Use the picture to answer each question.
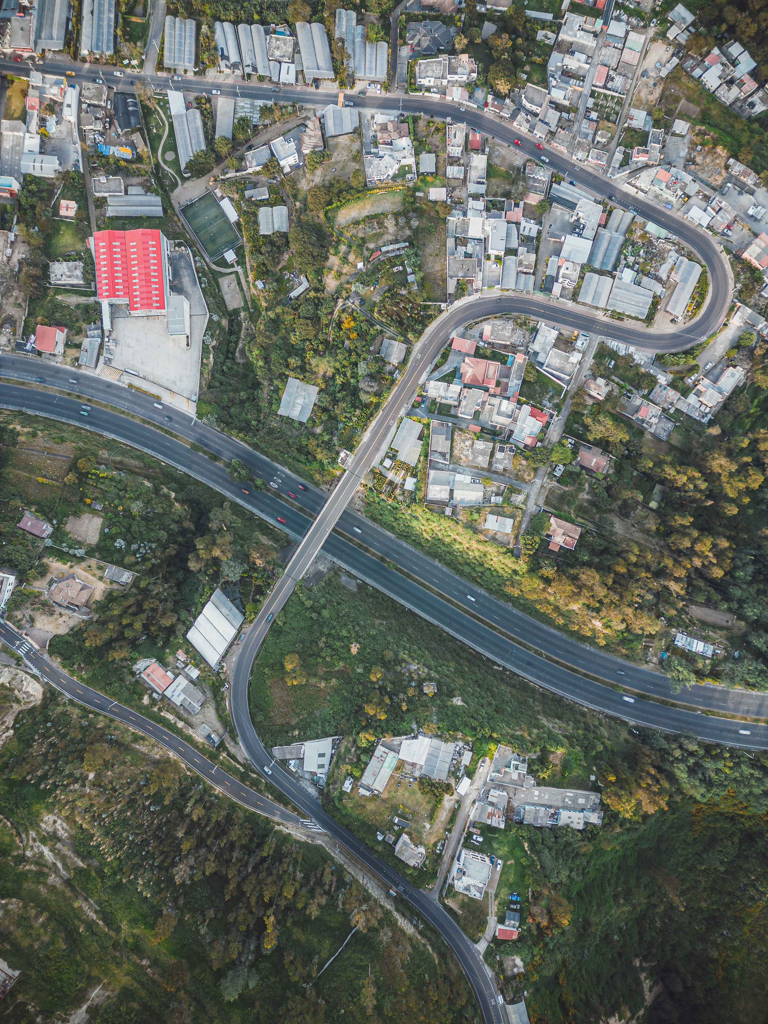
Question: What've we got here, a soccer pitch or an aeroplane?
soccer pitch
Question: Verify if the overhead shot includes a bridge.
Yes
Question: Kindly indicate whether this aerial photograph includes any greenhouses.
Yes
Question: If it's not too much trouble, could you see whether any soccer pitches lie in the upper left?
Yes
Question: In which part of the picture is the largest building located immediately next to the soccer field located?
top left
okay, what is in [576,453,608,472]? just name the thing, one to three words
shed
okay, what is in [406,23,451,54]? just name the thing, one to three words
house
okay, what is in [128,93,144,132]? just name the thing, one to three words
greenhouse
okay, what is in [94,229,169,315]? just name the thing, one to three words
building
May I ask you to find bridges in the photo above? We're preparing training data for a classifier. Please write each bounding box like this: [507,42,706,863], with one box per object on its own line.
[283,469,362,582]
